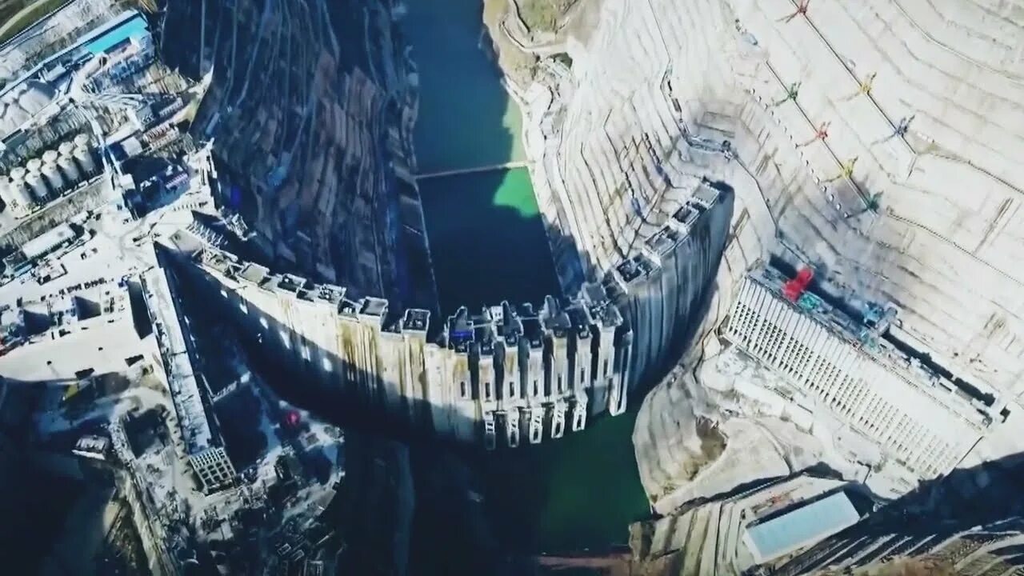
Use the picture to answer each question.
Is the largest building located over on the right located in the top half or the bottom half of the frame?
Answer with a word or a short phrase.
bottom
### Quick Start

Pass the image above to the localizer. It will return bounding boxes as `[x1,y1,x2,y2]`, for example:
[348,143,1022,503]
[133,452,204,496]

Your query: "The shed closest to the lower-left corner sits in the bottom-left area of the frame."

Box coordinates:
[71,436,107,462]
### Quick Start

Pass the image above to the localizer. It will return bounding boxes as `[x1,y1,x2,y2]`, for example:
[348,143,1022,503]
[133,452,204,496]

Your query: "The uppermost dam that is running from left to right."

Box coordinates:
[166,178,734,454]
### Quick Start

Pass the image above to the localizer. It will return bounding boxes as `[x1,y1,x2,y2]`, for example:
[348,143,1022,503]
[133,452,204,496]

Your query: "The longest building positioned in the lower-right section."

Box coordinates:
[740,489,861,565]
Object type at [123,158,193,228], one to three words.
building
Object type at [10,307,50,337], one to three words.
shed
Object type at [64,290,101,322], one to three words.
shed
